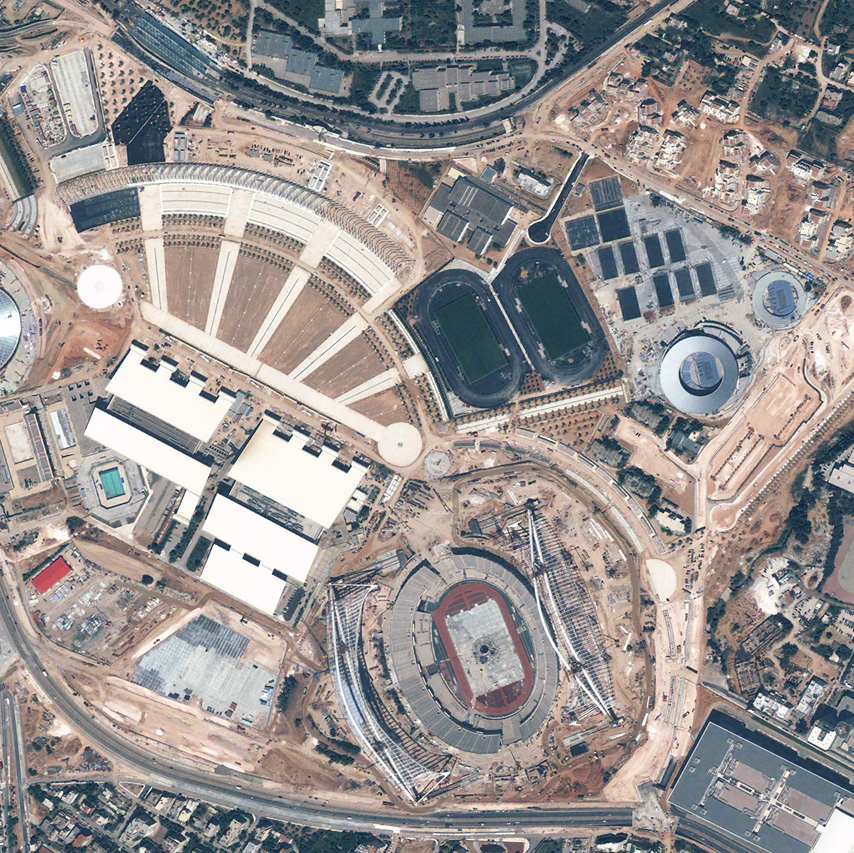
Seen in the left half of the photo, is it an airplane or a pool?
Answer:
pool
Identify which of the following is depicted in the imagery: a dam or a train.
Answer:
train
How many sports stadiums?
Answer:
3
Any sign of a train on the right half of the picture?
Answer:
No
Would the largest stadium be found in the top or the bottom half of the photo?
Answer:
bottom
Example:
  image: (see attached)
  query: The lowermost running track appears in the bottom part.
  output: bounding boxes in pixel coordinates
[431,582,533,714]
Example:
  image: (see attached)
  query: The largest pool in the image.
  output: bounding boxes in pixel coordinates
[78,451,150,527]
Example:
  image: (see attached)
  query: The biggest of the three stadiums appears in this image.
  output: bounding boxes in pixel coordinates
[386,553,558,759]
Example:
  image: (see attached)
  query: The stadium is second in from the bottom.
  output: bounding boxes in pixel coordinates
[660,323,754,414]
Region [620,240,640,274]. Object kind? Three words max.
tennis court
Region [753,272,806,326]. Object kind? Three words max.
stadium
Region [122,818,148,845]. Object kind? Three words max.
house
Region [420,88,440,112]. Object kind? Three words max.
building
